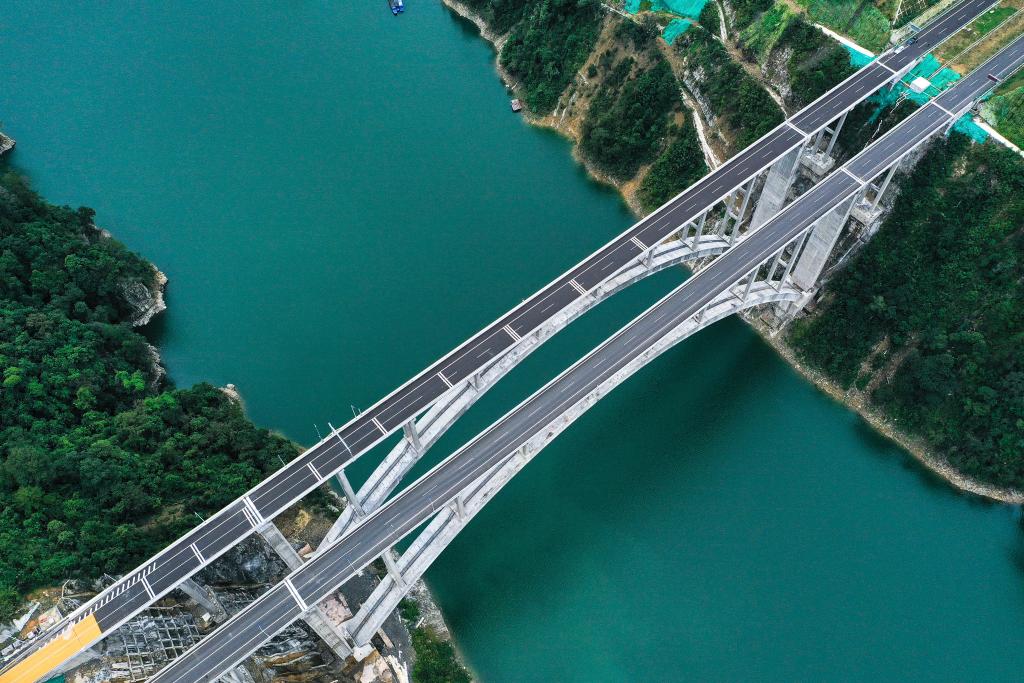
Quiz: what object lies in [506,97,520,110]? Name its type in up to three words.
boat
